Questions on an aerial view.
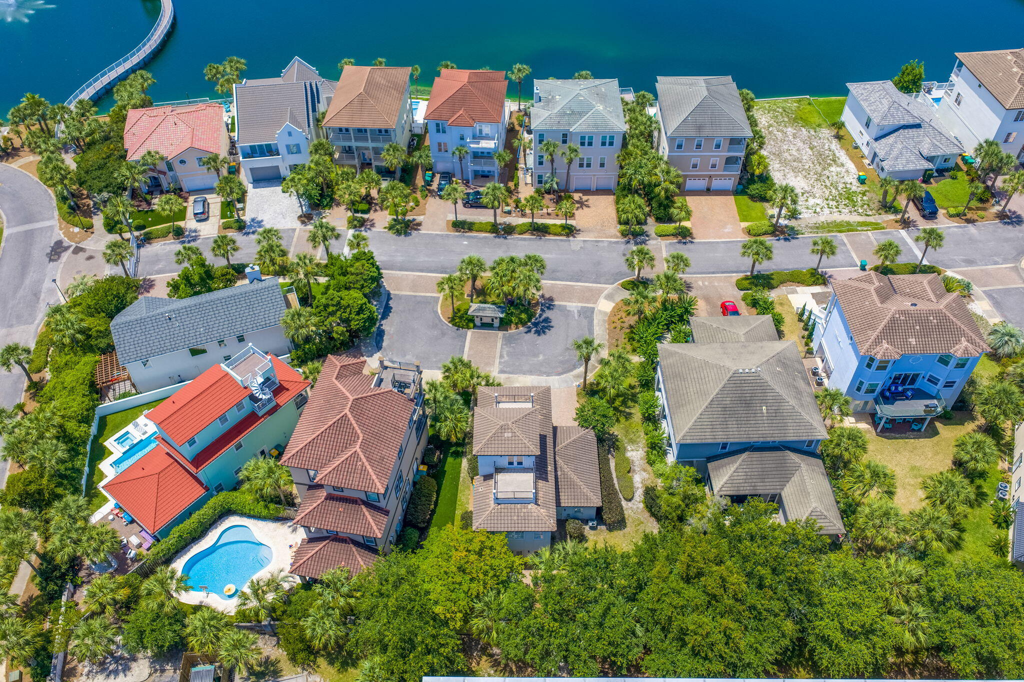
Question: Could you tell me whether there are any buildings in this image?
Yes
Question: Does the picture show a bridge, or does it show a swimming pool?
swimming pool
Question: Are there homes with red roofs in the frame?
Yes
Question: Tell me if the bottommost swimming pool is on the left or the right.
left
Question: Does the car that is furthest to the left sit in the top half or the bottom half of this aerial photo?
top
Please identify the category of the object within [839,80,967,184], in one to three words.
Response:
house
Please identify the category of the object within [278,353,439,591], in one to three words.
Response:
house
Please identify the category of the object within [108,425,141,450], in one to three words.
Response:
swimming pool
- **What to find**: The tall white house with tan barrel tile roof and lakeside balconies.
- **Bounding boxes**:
[939,50,1024,164]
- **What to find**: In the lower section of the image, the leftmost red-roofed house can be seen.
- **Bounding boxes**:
[100,335,313,538]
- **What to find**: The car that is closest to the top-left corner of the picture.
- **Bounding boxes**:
[188,197,212,221]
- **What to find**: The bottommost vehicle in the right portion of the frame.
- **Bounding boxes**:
[720,297,745,315]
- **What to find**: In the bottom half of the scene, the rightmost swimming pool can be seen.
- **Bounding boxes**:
[175,520,277,604]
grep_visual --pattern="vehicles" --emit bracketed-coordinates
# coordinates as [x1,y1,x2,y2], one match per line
[188,197,212,221]
[912,190,942,221]
[378,170,395,195]
[462,190,500,210]
[435,171,453,198]
[720,297,745,315]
